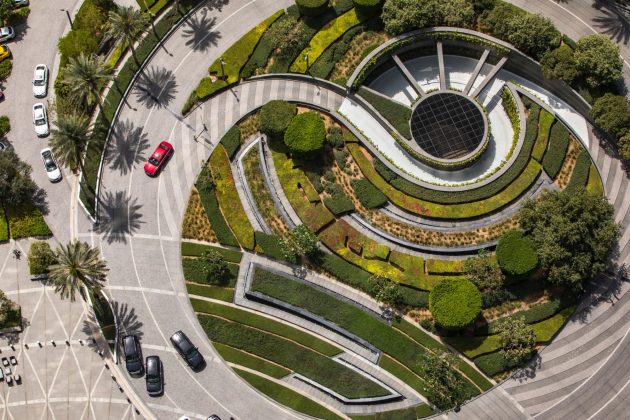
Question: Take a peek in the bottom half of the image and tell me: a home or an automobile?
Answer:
automobile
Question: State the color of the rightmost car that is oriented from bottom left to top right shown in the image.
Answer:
red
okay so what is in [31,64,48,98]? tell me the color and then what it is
white car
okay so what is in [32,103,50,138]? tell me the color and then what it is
white car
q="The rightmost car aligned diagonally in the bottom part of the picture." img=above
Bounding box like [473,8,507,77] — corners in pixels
[169,332,205,372]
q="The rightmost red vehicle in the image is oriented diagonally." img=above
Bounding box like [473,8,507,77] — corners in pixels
[145,141,173,176]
